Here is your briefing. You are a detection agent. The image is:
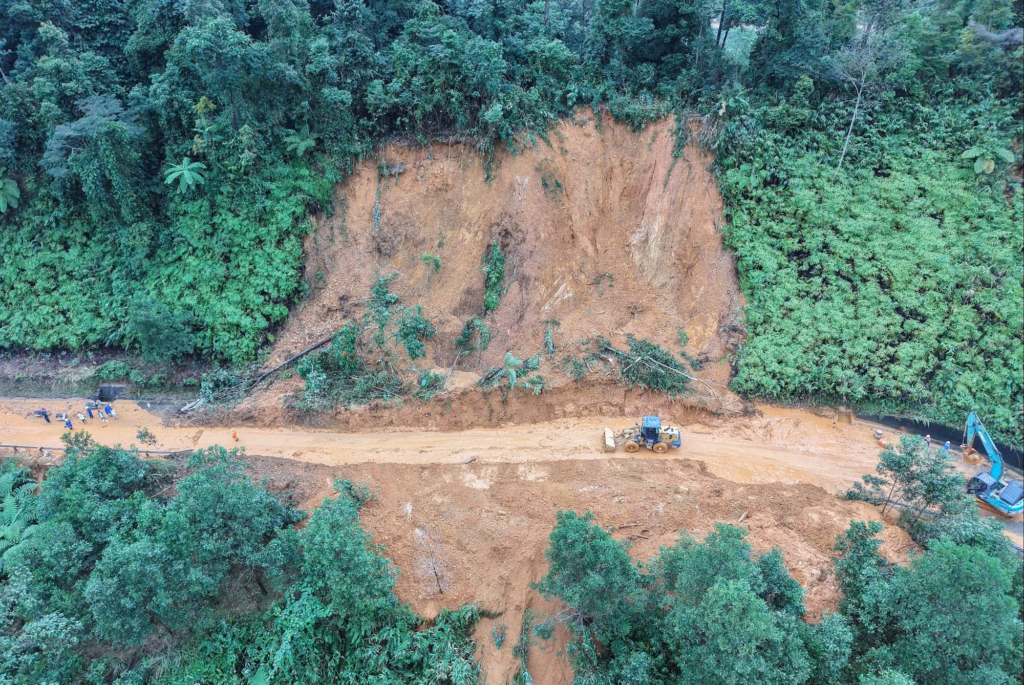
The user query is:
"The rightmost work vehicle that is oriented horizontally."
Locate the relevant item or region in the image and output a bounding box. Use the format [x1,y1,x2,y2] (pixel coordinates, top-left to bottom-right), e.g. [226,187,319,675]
[603,417,683,456]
